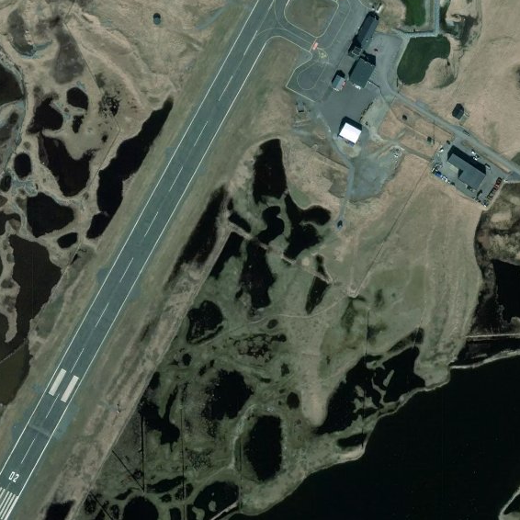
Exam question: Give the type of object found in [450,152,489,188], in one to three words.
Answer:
building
